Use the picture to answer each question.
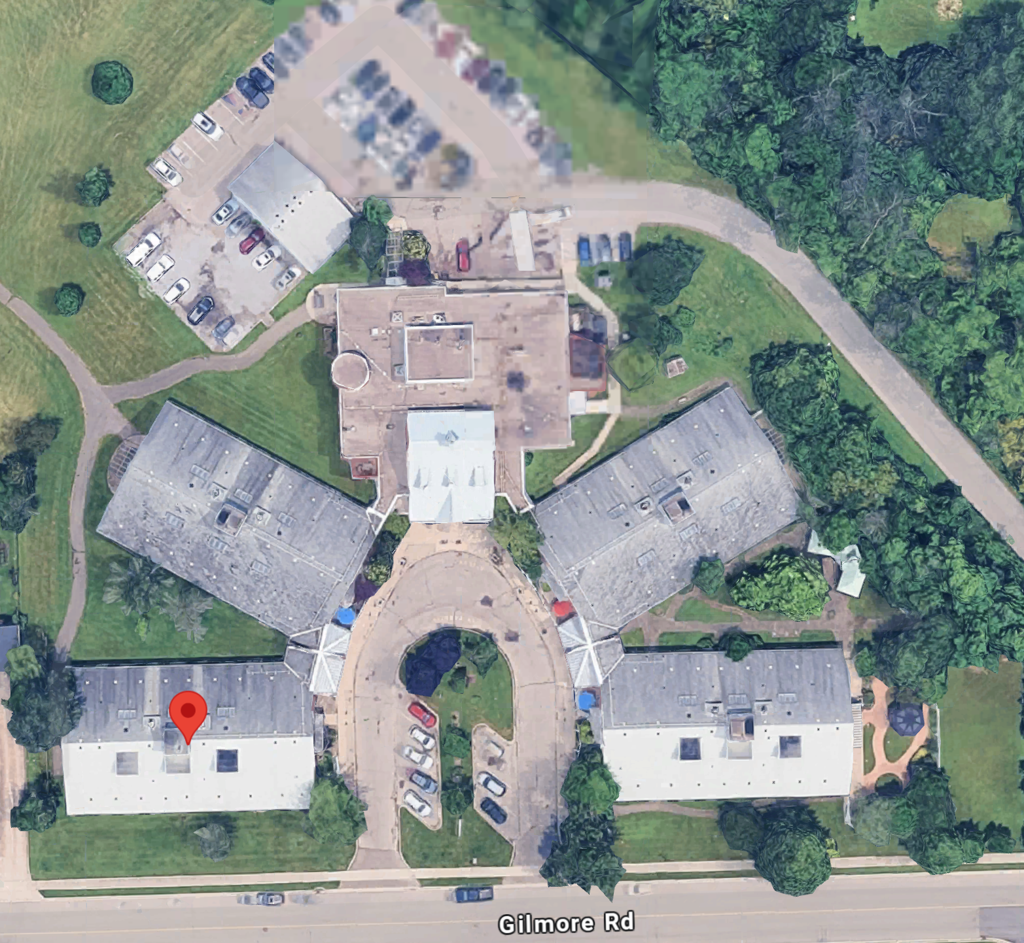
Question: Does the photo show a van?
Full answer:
Yes, this view includes a van.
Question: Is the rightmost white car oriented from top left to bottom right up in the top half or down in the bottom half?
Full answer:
It is in the bottom half that the rightmost white car oriented from top left to bottom right appears.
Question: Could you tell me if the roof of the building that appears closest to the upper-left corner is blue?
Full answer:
No, the color of the roof of the building that appears closest to the upper-left corner is white.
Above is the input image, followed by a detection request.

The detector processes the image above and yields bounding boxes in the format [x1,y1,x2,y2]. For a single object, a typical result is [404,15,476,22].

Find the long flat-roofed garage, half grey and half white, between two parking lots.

[229,140,356,274]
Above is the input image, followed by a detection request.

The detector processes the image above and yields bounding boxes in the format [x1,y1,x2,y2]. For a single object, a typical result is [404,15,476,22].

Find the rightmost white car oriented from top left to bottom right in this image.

[477,770,507,799]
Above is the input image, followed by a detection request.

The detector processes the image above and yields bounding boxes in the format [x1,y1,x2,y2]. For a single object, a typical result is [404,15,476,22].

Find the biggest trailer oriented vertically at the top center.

[510,209,535,274]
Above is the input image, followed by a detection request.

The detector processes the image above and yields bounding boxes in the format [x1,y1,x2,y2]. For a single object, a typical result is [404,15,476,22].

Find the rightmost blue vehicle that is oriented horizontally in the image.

[454,886,493,903]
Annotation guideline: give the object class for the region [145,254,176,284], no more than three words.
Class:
van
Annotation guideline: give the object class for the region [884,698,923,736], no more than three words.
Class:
gazebo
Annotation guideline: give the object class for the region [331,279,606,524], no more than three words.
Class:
building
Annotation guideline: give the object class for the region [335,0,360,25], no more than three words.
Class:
car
